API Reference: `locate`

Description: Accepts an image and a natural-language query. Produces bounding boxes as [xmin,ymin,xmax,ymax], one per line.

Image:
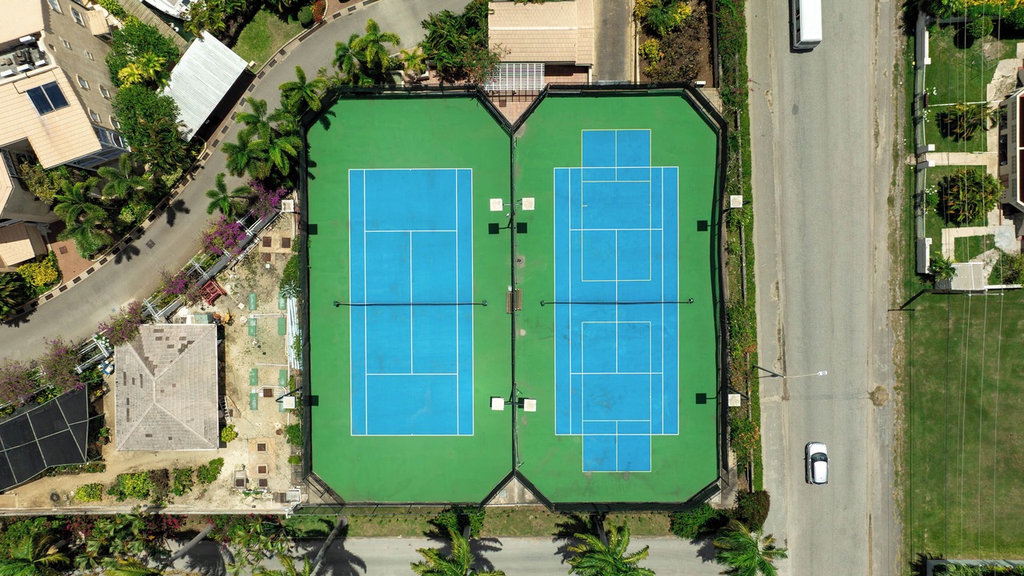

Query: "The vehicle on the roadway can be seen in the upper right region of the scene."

[789,0,822,49]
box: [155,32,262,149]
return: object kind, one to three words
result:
shed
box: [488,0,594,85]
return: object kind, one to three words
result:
house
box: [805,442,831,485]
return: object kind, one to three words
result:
car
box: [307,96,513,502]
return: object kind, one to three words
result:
tennis court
